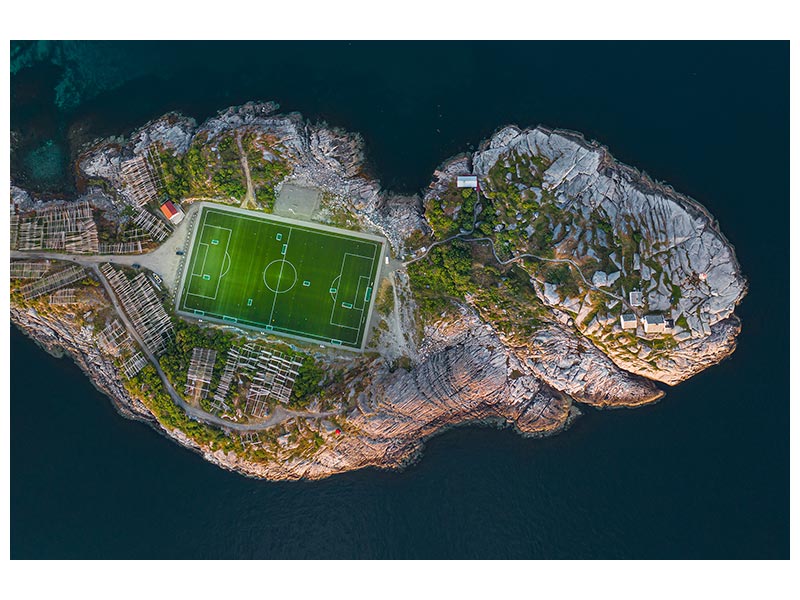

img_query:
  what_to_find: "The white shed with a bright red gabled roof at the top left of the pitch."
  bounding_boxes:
[162,202,188,227]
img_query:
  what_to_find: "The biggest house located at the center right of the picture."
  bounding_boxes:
[638,314,673,341]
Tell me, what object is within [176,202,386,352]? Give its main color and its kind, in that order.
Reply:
green soccer field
